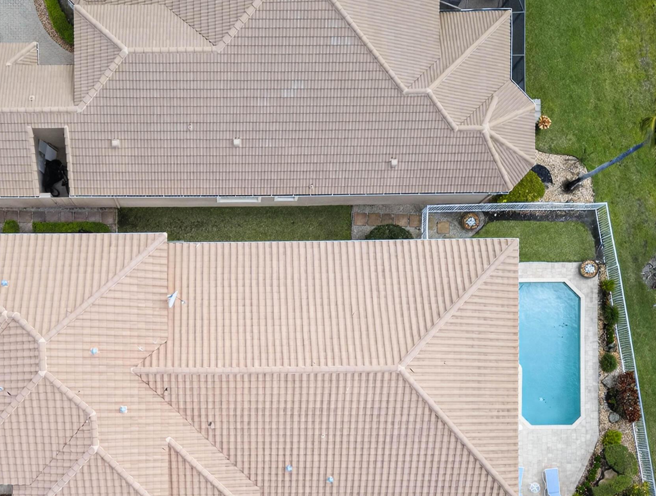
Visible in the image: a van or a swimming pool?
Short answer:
swimming pool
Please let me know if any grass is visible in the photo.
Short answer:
Yes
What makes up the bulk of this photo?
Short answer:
buildings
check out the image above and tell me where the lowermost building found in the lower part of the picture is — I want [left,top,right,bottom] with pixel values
[0,230,522,496]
